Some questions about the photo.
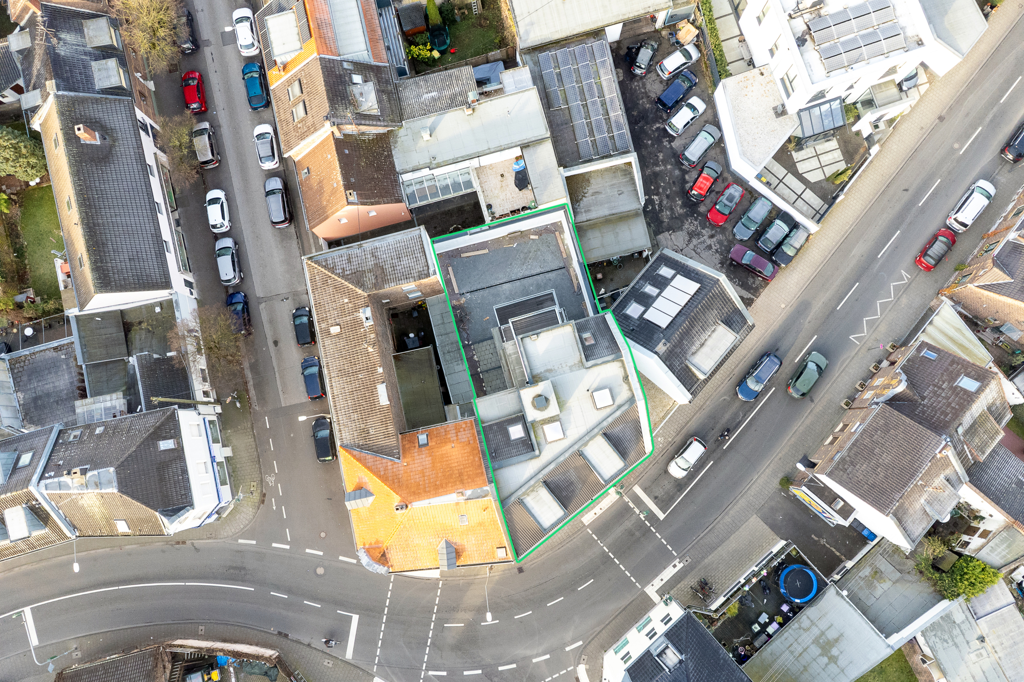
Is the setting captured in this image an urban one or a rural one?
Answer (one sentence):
It looks urban.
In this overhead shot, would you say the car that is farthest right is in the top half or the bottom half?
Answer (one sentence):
Seen from above, the car that is farthest right lies in the top half of the view.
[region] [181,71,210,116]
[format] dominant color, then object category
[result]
red car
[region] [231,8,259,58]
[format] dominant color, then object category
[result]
white car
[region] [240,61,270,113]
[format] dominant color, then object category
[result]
blue car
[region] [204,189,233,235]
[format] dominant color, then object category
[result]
white car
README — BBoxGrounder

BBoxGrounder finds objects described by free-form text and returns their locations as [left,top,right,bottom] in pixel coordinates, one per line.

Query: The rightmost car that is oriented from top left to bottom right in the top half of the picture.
[727,244,782,285]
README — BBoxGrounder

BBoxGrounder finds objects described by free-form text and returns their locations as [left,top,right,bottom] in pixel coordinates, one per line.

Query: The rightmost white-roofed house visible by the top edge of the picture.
[714,0,989,182]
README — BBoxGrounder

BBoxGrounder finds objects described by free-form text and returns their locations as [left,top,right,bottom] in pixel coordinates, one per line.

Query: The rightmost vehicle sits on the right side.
[997,118,1024,165]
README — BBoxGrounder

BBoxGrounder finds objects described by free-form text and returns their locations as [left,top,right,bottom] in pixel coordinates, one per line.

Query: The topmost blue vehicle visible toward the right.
[654,69,699,116]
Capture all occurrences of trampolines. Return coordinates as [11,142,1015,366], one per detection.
[425,12,451,48]
[780,564,830,610]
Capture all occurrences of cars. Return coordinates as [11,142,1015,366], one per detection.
[300,355,328,402]
[677,123,722,172]
[898,61,928,94]
[787,350,825,400]
[231,8,259,58]
[181,71,210,116]
[706,180,746,228]
[627,38,658,80]
[253,123,281,172]
[997,118,1024,165]
[308,417,337,464]
[214,237,243,287]
[654,69,699,116]
[194,121,222,171]
[669,435,708,480]
[662,95,707,140]
[655,42,698,84]
[225,291,253,337]
[240,61,270,113]
[754,213,797,257]
[771,226,811,269]
[290,306,317,348]
[913,228,954,275]
[946,178,993,235]
[732,196,775,243]
[204,189,233,235]
[727,244,782,285]
[262,176,293,230]
[684,161,723,206]
[737,349,782,400]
